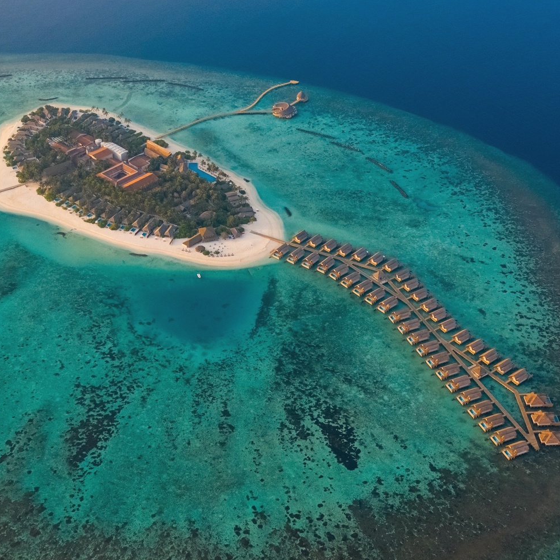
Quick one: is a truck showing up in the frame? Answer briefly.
No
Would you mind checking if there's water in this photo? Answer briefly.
Yes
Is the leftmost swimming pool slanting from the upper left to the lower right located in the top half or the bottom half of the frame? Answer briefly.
top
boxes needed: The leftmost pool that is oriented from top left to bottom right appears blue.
[187,162,216,184]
